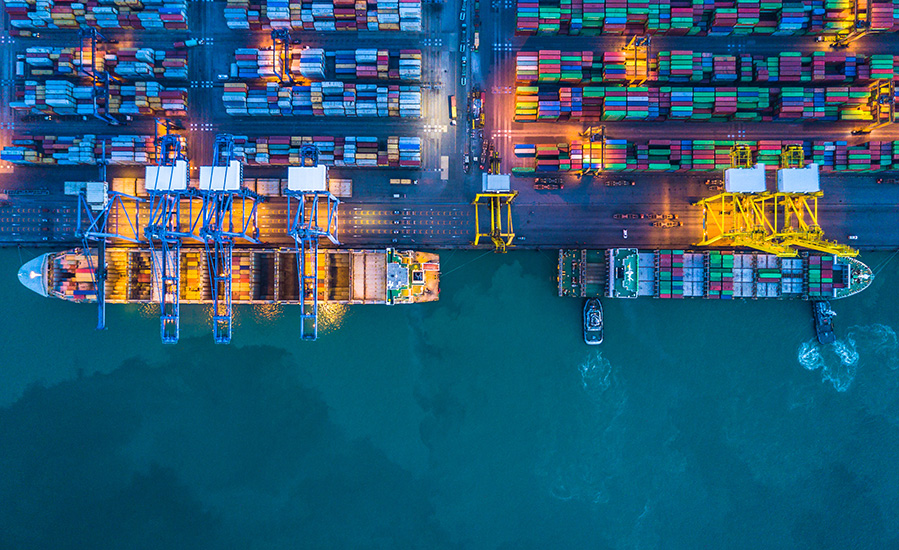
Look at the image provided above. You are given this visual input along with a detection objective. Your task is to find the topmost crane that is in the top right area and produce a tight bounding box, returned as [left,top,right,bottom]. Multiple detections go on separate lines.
[829,0,870,45]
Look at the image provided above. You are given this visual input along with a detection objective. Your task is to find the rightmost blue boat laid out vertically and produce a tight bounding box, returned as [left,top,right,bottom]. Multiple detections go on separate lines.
[810,298,834,345]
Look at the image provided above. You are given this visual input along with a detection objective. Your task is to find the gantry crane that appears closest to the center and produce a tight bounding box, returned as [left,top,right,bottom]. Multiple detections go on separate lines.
[465,159,523,254]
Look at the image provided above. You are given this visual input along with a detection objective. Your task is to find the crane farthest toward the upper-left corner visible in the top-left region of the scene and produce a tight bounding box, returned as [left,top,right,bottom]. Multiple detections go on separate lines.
[79,25,118,82]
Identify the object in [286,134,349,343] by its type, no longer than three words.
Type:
container crane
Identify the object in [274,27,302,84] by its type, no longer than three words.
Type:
crane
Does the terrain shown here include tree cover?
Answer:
No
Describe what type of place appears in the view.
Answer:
port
